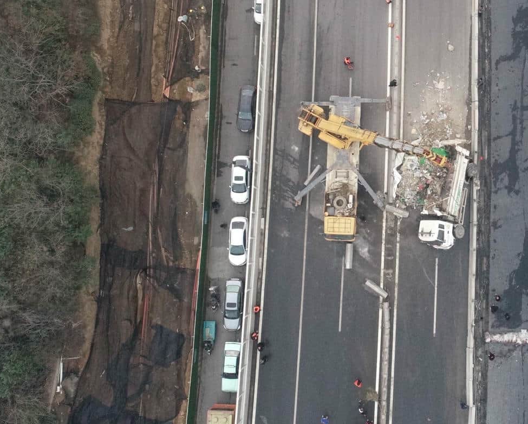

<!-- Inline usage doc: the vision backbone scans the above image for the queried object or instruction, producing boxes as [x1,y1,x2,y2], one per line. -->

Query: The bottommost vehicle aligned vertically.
[216,342,240,396]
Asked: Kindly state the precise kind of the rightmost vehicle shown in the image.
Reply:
truck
